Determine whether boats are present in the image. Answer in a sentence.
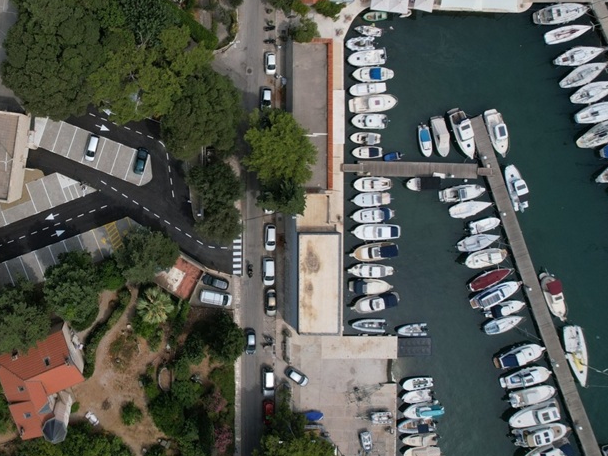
Yes, there is a boat in the image.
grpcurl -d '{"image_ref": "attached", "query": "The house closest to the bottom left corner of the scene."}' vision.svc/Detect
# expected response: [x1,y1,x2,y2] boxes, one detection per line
[0,318,85,441]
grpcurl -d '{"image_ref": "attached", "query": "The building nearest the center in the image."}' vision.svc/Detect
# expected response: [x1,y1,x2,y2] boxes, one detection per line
[287,228,341,335]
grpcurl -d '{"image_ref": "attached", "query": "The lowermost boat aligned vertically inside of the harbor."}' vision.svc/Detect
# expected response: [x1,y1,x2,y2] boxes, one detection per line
[361,430,374,456]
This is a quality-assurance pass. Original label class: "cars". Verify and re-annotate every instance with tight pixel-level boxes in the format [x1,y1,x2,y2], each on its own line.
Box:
[283,366,309,387]
[263,204,275,217]
[133,146,149,177]
[263,223,277,252]
[261,365,275,396]
[264,287,278,316]
[200,273,230,291]
[260,86,273,112]
[84,133,101,162]
[264,51,277,77]
[262,256,275,285]
[244,328,257,353]
[262,396,273,422]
